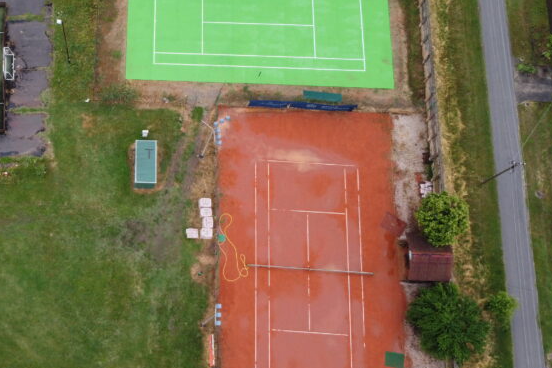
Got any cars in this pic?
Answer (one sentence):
No, there appears to be no car in this shot.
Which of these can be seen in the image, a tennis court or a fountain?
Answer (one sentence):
I can see a tennis court in this picture.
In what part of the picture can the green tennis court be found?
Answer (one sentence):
The green tennis court is in the top part of the image.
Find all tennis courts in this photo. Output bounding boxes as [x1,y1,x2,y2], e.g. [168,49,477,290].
[218,109,405,368]
[126,0,394,88]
